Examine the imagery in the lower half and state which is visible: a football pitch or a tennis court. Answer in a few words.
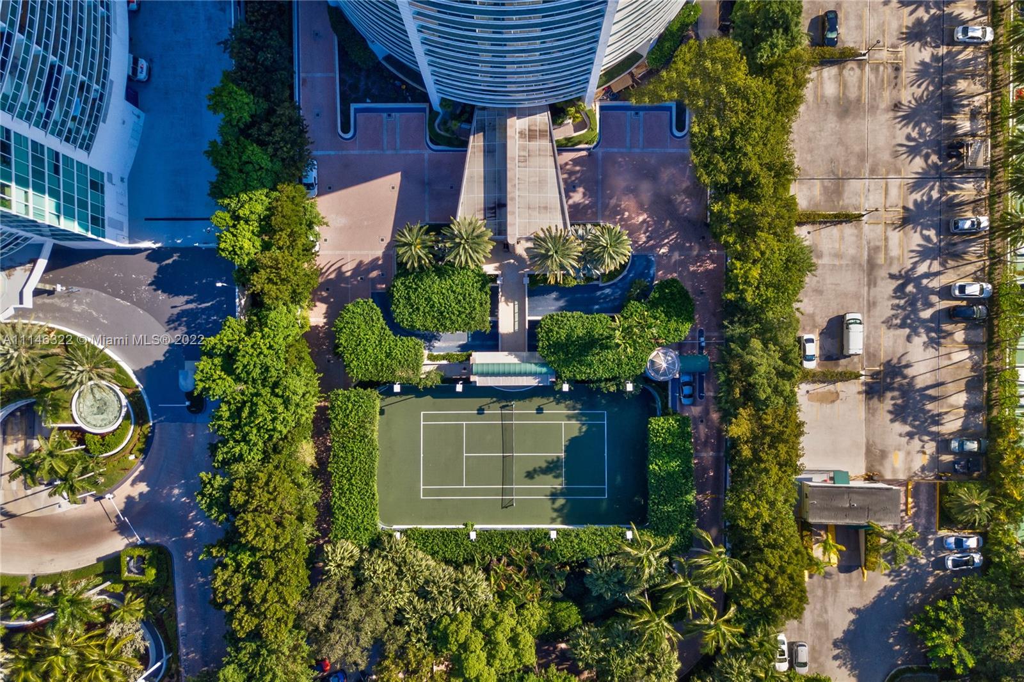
tennis court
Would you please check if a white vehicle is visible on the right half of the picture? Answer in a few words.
Yes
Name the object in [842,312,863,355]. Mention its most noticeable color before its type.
white vehicle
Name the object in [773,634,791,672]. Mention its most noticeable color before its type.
white car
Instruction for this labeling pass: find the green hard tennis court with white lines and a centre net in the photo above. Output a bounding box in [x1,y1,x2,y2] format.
[381,383,658,524]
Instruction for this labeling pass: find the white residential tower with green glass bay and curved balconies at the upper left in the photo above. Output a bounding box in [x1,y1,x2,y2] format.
[0,0,143,246]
